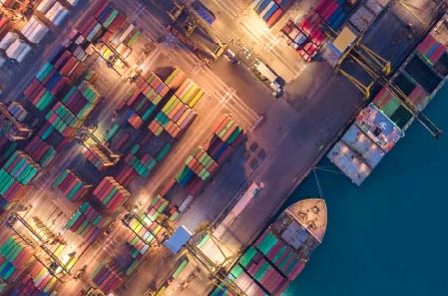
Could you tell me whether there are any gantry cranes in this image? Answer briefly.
Yes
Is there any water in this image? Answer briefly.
Yes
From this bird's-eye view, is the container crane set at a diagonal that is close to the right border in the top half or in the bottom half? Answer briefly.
top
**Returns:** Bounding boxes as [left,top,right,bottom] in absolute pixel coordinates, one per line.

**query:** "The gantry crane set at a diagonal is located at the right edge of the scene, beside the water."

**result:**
[320,24,442,139]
